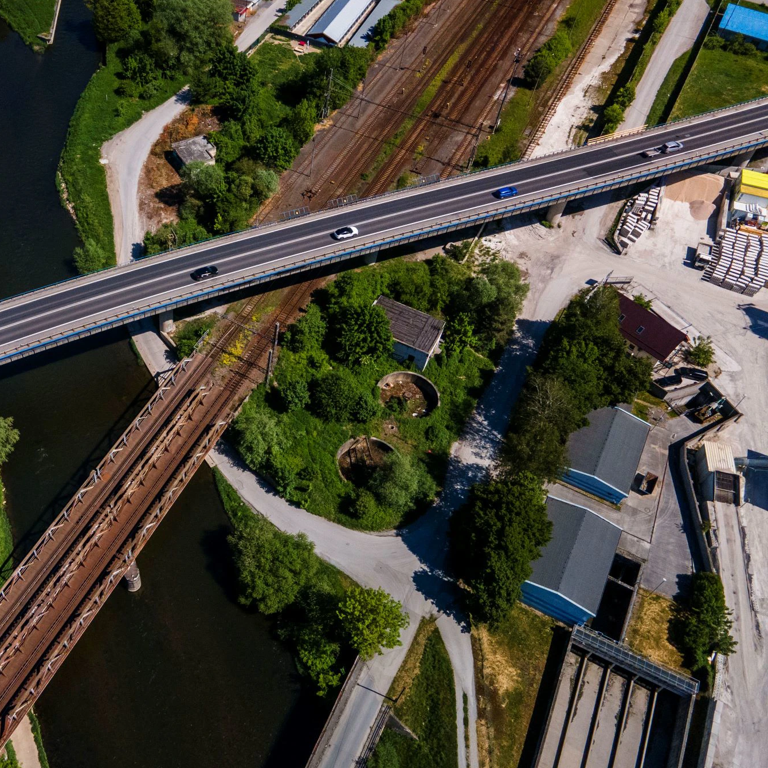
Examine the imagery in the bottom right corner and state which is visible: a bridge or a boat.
bridge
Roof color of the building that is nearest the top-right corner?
blue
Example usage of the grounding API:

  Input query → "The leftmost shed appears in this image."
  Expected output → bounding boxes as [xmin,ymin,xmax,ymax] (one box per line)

[172,134,216,177]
